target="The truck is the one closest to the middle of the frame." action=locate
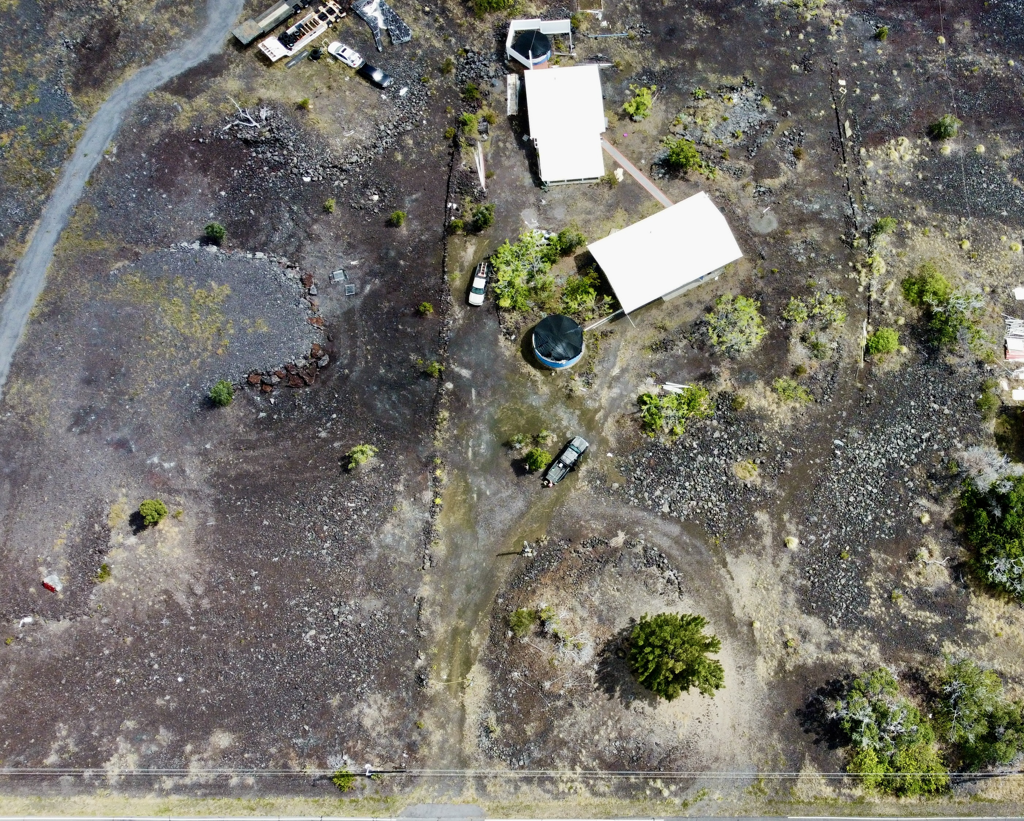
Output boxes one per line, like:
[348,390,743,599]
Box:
[548,434,590,488]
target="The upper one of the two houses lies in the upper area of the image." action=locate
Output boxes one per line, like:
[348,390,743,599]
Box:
[524,65,608,194]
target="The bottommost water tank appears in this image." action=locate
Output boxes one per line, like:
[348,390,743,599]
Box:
[533,314,586,369]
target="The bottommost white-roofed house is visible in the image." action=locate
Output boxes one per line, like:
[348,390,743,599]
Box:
[587,191,743,319]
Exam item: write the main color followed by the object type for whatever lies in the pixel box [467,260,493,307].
white truck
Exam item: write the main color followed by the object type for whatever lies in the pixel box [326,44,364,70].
white car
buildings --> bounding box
[524,65,608,194]
[587,191,743,319]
